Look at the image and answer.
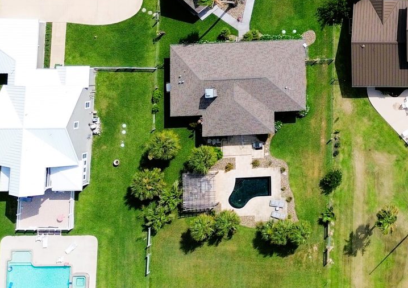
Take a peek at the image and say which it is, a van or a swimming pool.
swimming pool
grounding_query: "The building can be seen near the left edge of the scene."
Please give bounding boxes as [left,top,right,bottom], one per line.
[0,19,96,196]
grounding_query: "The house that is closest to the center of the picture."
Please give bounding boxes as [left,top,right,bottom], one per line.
[170,39,306,137]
